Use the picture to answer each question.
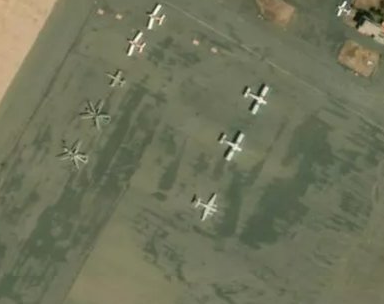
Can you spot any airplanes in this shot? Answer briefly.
Yes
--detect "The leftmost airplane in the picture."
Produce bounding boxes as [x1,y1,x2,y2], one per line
[106,70,126,87]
